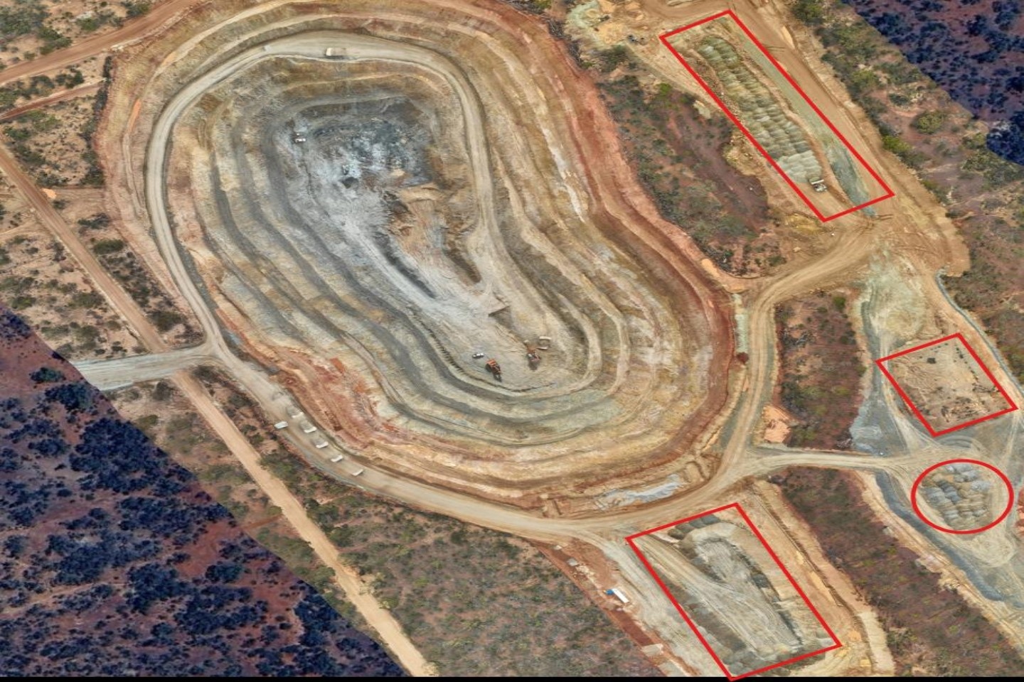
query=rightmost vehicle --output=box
[808,172,823,187]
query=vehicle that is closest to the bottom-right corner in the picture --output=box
[608,584,634,607]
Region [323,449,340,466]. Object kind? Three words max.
vehicle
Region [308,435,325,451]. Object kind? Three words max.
vehicle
